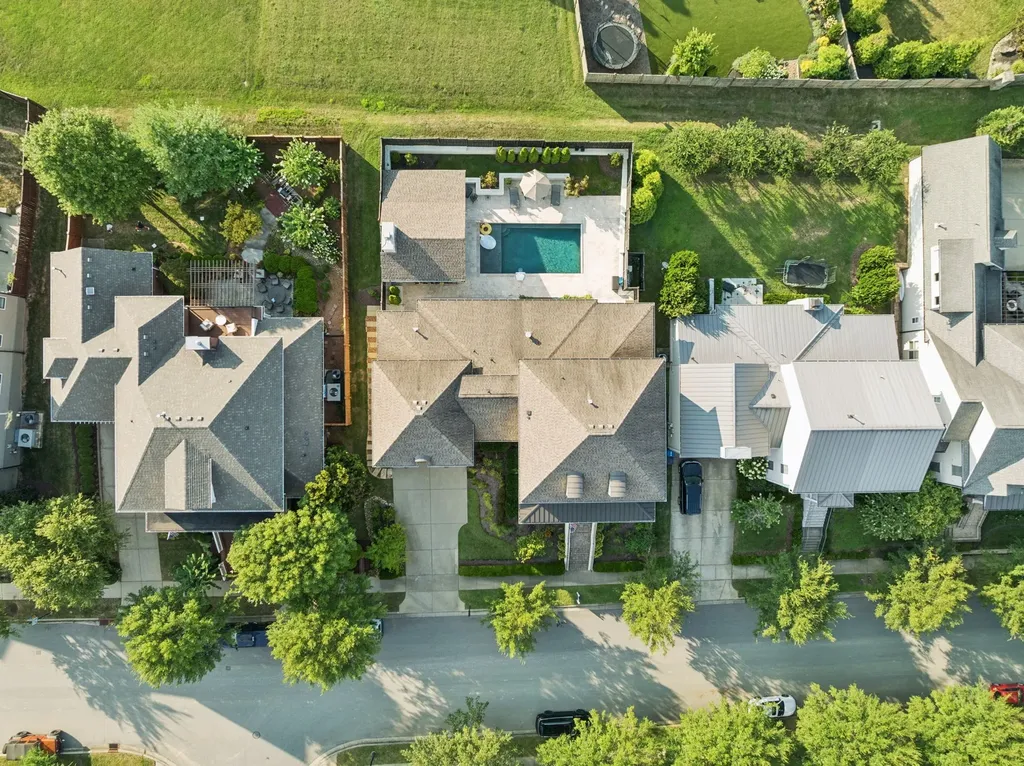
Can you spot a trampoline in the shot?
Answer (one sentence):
Yes, there's a trampoline here.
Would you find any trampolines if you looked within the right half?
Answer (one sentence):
Yes, a trampoline is visible within the right half.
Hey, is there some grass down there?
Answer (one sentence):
Yes, the picture does contain grass.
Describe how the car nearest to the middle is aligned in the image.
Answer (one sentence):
Seen from above, the car nearest to the middle lies from top to bottom.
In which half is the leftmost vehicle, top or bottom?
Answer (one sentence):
The bottom half of the photo is where the leftmost vehicle is.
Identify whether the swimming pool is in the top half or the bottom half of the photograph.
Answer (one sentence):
It is in the top half that the swimming pool appears.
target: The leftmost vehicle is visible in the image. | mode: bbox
[5,728,65,759]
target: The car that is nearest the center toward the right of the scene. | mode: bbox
[678,458,706,517]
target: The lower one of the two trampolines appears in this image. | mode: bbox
[774,254,841,287]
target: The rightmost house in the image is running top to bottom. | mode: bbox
[901,131,1024,511]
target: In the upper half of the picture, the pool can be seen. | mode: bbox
[476,221,584,275]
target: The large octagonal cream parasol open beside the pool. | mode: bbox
[520,163,552,196]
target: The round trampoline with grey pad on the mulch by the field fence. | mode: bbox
[592,15,640,72]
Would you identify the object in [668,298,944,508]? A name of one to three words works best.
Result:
house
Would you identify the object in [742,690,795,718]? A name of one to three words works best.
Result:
car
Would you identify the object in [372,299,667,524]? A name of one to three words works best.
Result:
house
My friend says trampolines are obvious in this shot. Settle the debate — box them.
[592,15,640,72]
[774,254,841,287]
